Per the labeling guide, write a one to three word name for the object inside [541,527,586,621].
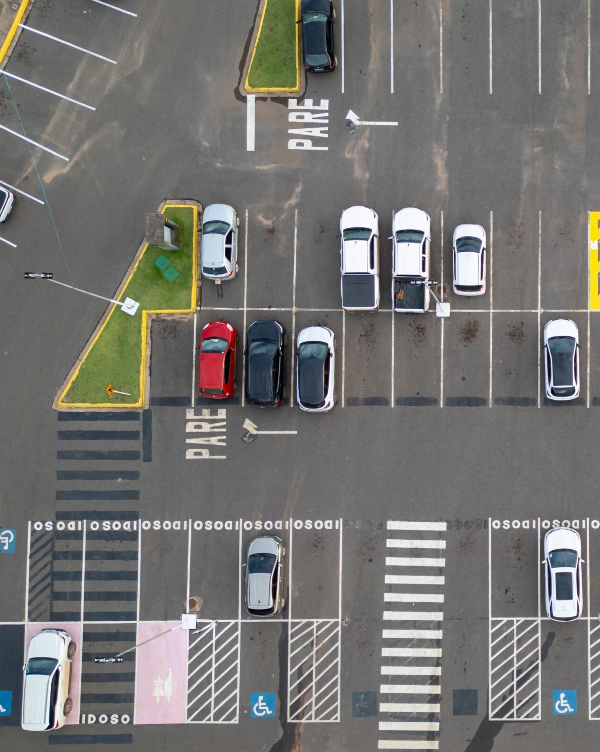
car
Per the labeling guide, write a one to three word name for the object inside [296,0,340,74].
car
